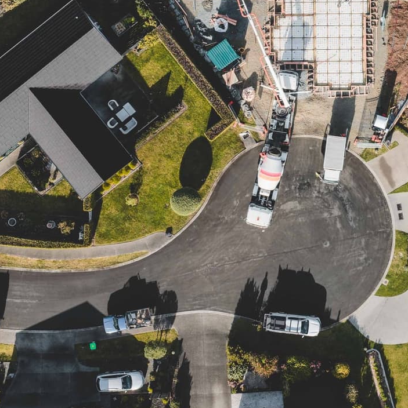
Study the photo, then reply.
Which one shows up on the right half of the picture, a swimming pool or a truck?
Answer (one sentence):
It is a truck that can be seen on the right half of the picture.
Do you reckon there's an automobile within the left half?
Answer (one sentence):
Yes, within the left half there is an automobile.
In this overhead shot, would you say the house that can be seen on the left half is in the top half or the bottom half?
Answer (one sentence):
The house that can be seen on the left half sits in the top half of the picture.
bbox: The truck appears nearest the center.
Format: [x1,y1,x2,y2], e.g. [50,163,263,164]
[242,141,287,236]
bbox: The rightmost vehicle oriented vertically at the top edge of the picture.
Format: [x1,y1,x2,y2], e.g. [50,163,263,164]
[237,0,313,153]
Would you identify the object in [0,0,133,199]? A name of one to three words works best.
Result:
house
